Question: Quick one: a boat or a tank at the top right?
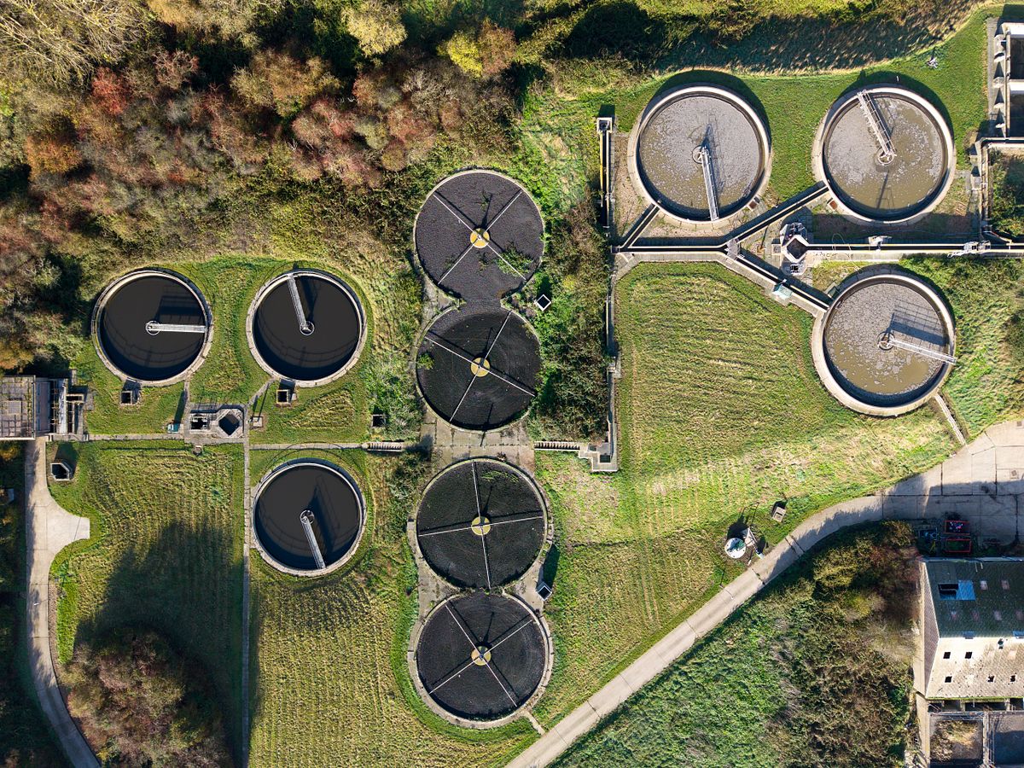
tank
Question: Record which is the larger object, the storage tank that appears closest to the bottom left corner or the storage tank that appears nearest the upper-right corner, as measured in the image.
the storage tank that appears nearest the upper-right corner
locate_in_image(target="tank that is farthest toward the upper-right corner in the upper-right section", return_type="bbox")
[811,88,956,232]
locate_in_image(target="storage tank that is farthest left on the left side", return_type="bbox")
[93,270,213,389]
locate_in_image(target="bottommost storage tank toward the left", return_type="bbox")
[251,461,367,577]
